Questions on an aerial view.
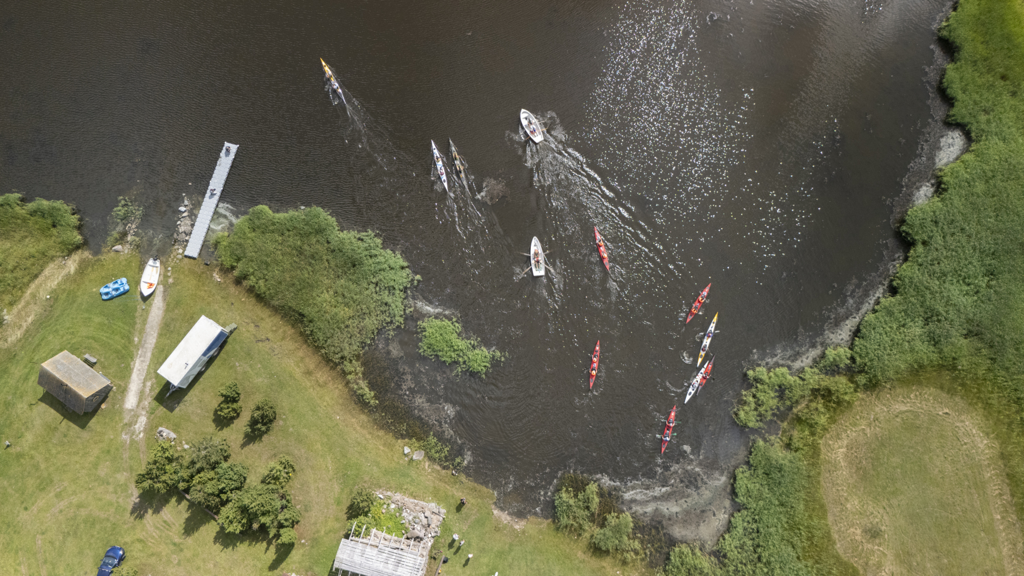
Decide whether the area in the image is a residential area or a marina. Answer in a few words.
marina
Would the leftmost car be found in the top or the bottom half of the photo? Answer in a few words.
bottom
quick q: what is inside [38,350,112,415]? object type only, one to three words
shed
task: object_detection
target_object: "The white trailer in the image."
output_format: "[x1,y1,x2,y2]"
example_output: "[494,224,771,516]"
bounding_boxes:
[158,316,231,396]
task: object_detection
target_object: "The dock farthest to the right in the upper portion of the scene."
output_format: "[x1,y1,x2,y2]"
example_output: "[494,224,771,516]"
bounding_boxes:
[185,141,239,260]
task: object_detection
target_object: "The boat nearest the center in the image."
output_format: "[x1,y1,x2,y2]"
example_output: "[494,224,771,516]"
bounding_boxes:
[530,236,544,277]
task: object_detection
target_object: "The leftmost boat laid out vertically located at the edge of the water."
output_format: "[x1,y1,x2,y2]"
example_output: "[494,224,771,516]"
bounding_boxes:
[144,256,162,296]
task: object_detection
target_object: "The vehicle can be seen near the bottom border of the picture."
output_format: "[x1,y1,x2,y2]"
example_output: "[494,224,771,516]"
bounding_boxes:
[93,546,124,576]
